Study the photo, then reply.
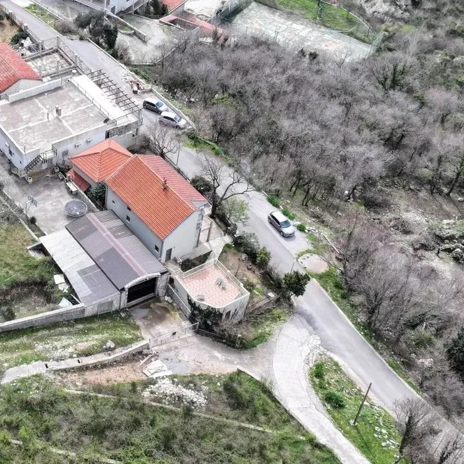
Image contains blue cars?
No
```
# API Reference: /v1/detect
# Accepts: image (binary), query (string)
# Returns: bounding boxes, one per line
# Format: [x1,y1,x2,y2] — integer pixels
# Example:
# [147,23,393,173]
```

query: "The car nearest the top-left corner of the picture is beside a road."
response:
[142,95,170,112]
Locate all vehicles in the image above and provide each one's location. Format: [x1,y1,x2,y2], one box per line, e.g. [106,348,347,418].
[142,95,170,112]
[268,210,298,236]
[157,108,188,127]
